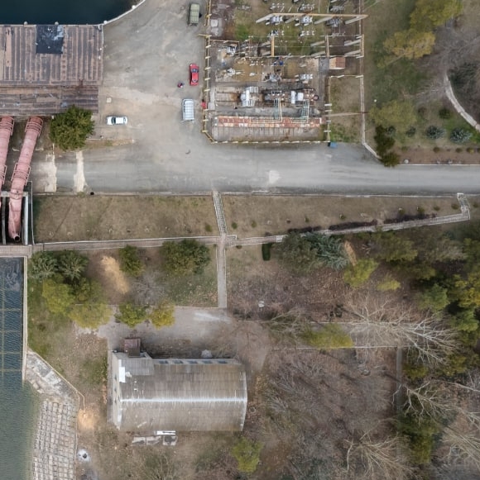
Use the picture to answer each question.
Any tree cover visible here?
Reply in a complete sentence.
Yes, some tree cover is visible.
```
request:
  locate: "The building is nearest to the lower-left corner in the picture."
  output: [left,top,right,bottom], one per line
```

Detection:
[112,336,249,431]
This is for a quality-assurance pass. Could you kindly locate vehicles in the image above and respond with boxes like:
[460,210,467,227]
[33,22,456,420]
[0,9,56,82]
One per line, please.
[187,3,201,26]
[188,63,200,86]
[107,115,127,124]
[180,98,193,122]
